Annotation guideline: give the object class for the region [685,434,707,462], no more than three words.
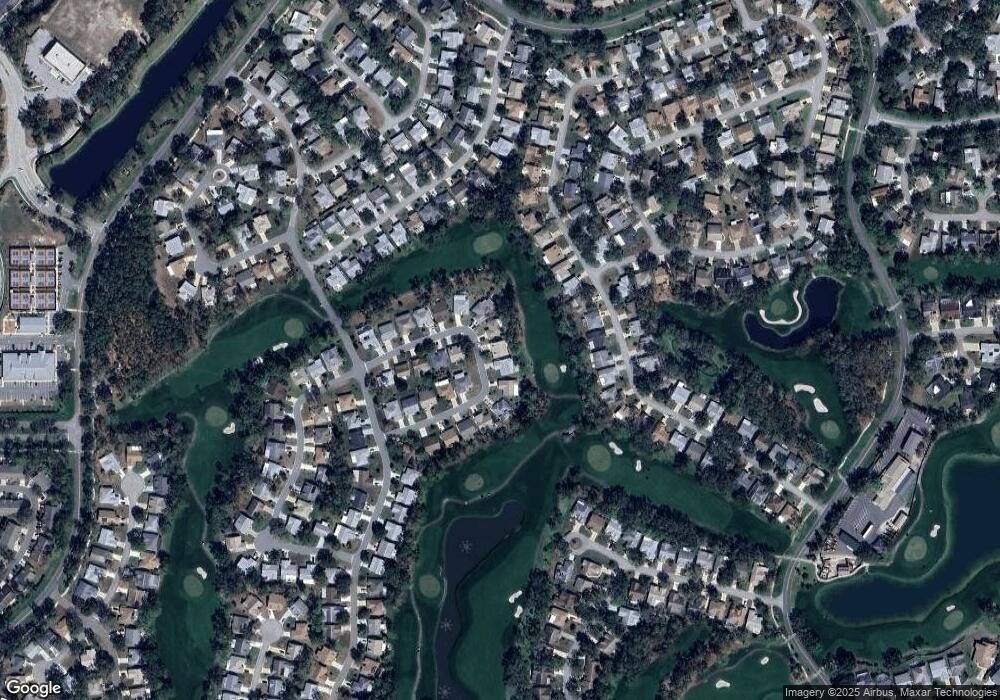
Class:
house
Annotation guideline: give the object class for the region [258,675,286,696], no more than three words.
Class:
house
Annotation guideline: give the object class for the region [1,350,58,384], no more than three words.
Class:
building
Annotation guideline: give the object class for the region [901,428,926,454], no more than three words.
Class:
building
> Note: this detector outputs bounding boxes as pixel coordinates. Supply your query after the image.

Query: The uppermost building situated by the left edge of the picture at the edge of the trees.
[42,42,87,81]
